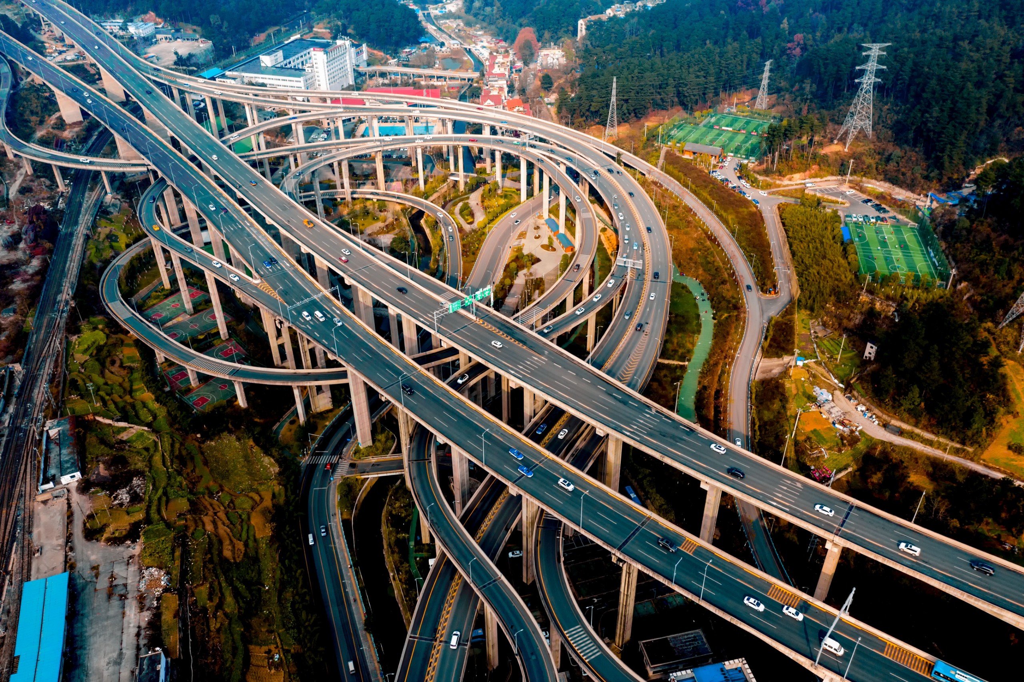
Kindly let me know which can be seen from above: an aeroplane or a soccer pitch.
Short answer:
soccer pitch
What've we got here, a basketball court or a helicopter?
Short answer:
basketball court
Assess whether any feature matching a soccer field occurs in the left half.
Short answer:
No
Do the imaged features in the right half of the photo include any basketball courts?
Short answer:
No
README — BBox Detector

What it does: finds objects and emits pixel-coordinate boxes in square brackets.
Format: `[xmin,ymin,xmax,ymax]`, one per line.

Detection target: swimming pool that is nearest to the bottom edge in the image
[356,122,440,139]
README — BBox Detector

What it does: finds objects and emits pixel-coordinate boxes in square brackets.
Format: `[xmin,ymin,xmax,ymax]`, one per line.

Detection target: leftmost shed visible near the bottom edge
[10,572,77,682]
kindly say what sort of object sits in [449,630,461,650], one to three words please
vehicle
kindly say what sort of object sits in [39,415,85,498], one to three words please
building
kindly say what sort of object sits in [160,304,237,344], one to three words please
basketball court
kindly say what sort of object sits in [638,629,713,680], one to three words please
building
